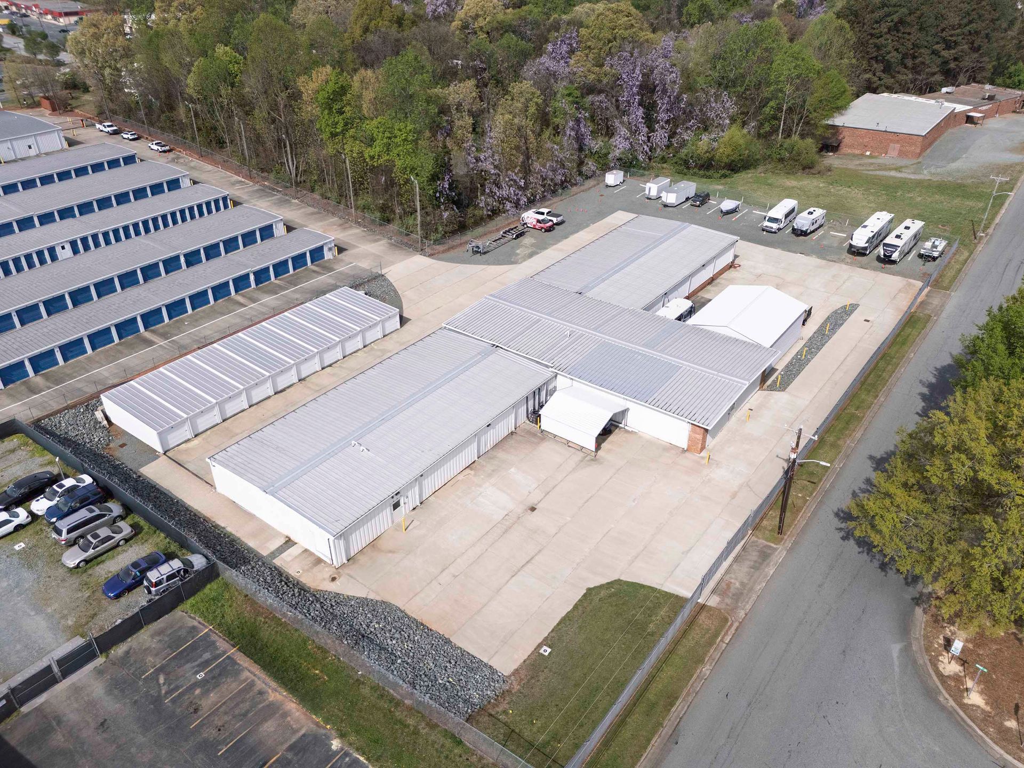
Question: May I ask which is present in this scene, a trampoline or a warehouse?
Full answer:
Looking from above, you can make out a warehouse.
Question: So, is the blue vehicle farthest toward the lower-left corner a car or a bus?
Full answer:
From above, the blue vehicle farthest toward the lower-left corner can be identified as a car.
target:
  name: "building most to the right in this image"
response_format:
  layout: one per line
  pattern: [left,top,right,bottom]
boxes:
[816,80,1024,162]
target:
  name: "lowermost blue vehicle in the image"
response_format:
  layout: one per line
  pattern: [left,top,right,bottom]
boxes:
[98,553,167,603]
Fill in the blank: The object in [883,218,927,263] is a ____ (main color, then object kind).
white vehicle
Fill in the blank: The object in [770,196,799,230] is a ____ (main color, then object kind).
white vehicle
